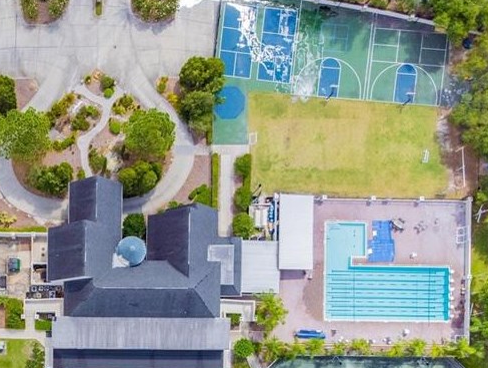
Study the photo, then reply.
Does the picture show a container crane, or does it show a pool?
pool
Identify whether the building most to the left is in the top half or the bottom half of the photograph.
bottom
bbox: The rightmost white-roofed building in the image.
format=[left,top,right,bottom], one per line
[274,194,314,270]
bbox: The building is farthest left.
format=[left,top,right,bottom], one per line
[49,176,242,368]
